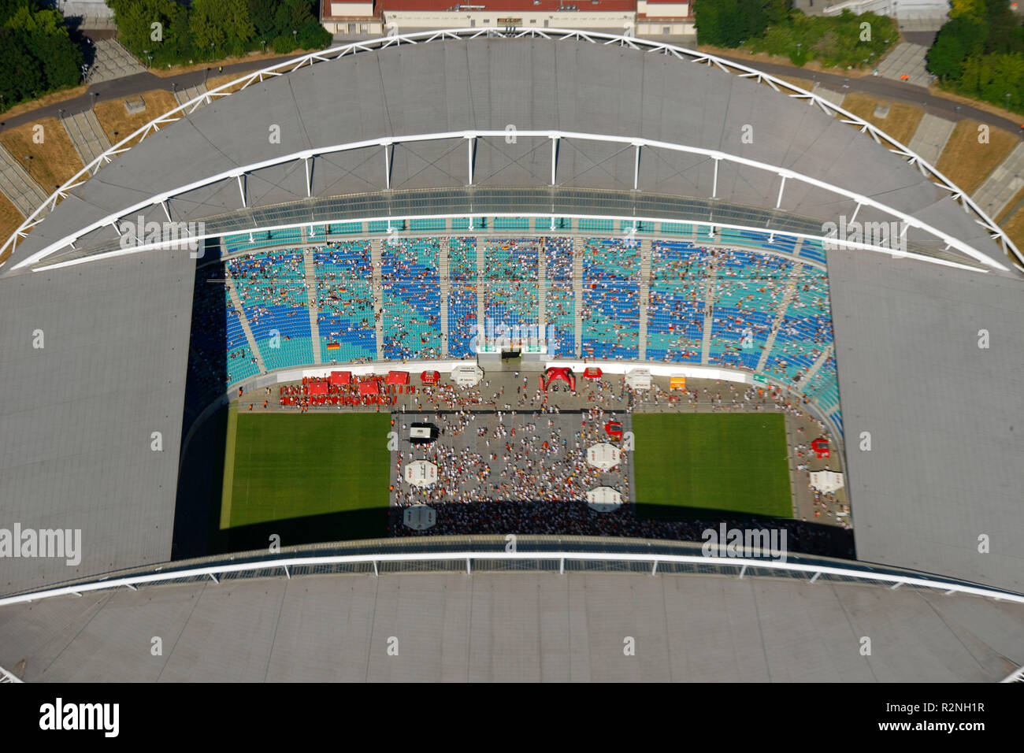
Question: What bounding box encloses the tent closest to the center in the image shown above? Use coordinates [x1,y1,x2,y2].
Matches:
[540,375,578,400]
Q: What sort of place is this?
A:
sports ground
